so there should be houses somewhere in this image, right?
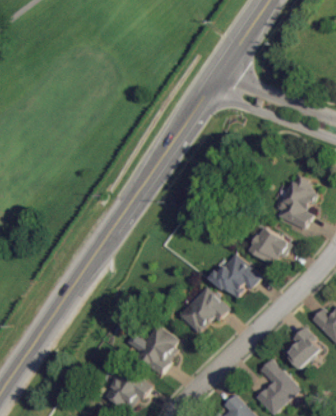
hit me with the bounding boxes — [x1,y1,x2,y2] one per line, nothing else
[106,376,159,406]
[208,250,262,298]
[287,322,324,368]
[277,173,320,231]
[143,328,182,378]
[246,226,292,264]
[311,308,336,344]
[224,396,262,416]
[182,288,234,334]
[258,358,302,416]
